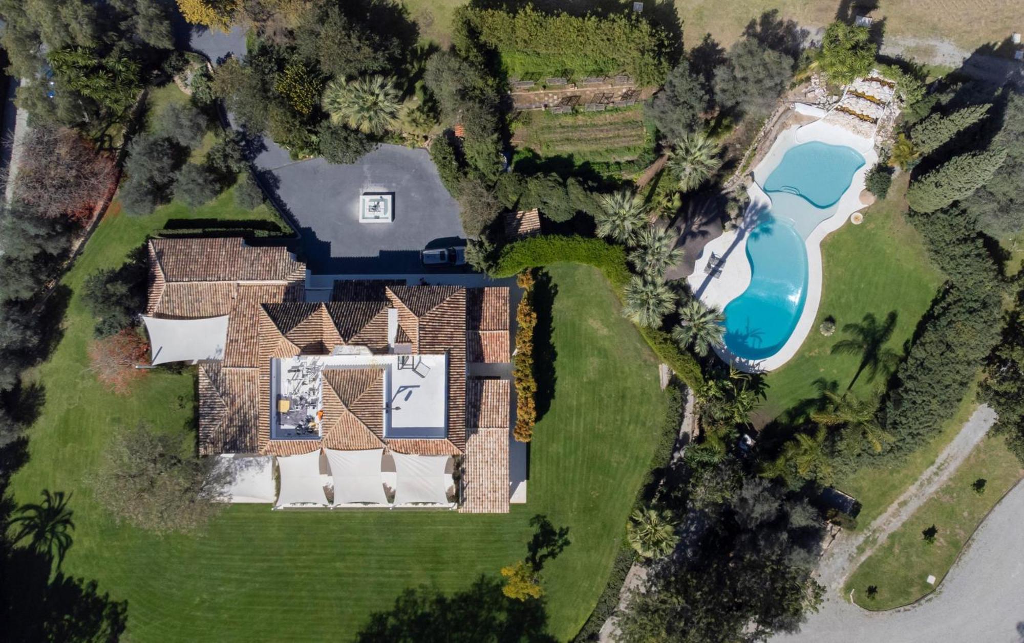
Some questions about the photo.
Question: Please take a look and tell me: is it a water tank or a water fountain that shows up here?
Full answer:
The one in the frame is a water fountain.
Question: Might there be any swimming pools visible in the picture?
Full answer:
Yes, the photo shows a swimming pool.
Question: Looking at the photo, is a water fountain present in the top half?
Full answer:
Yes, there is a water fountain in the top half.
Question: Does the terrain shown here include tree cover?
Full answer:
Yes, tree cover can be seen from above here.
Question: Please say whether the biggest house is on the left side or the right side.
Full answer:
It is on the left.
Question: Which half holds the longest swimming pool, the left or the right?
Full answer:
You can find the longest swimming pool on the right side of the picture.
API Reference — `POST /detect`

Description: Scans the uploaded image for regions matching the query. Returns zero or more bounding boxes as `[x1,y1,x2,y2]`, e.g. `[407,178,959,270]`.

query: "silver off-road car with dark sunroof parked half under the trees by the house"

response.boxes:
[421,246,465,268]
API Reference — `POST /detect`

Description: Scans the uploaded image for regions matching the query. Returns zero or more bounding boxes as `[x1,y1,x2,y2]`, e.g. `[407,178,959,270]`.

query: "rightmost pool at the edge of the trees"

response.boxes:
[688,120,880,373]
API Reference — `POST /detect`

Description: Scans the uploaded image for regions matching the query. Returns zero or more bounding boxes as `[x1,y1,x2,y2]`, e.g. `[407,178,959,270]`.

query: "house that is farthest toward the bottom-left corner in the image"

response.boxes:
[146,236,510,514]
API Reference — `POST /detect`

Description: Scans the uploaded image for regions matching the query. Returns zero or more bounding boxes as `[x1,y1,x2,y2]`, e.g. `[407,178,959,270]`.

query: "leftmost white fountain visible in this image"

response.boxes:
[358,194,392,222]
